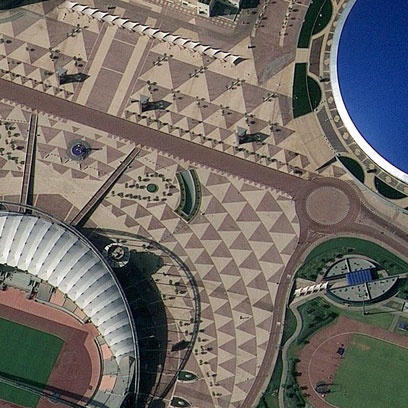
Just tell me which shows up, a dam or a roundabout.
roundabout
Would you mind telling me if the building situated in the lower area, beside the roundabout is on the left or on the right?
right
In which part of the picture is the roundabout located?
right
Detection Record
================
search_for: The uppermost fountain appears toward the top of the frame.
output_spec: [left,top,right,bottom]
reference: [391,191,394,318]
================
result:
[66,139,91,162]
